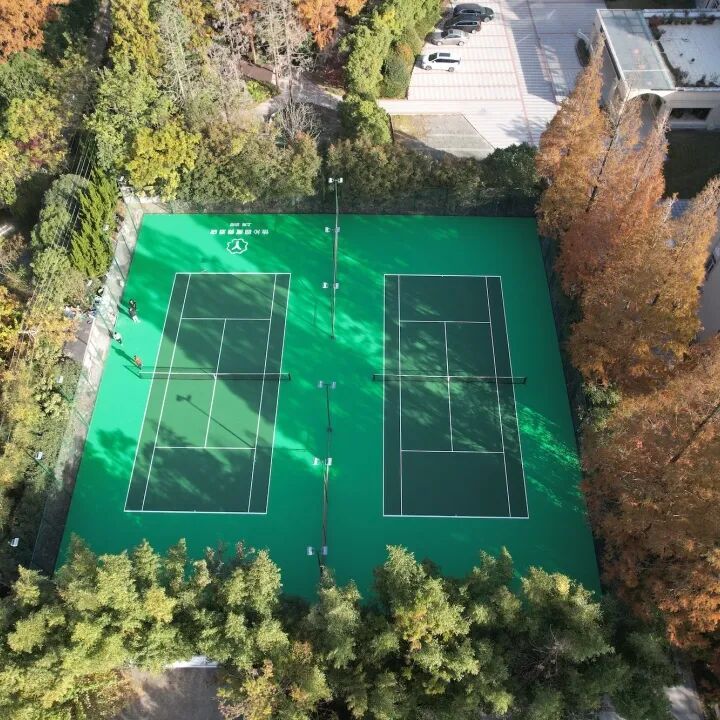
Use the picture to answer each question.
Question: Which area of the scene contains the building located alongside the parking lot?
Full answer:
The building located alongside the parking lot is in the top right part of the image.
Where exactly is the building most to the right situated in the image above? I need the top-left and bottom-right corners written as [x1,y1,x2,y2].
[586,8,720,129]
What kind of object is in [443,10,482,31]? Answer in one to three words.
car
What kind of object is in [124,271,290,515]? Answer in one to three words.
tennis court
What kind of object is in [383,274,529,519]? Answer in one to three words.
tennis court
